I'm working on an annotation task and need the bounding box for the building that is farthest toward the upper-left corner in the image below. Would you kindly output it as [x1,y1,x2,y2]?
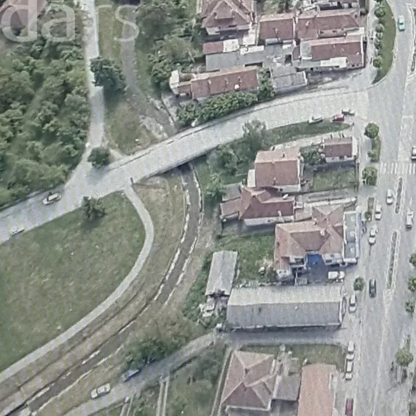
[0,0,51,34]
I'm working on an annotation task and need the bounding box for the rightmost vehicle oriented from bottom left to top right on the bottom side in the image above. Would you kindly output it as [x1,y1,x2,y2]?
[119,369,136,382]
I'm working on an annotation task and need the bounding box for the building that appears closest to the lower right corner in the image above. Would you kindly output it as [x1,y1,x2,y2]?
[299,364,337,416]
